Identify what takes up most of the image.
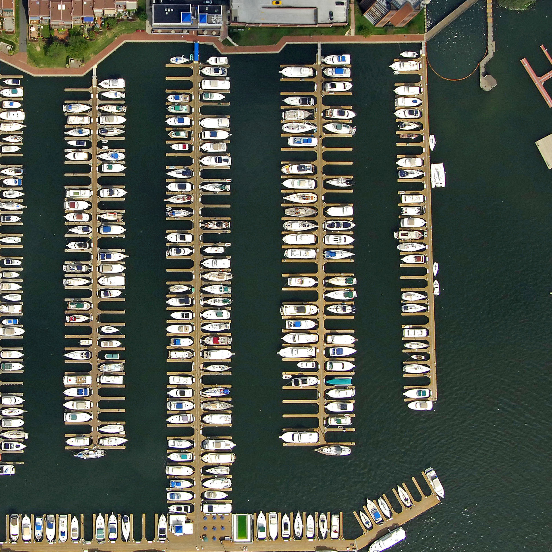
water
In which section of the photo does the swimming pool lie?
bottom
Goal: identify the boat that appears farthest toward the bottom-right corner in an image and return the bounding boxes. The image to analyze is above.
[425,469,445,500]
